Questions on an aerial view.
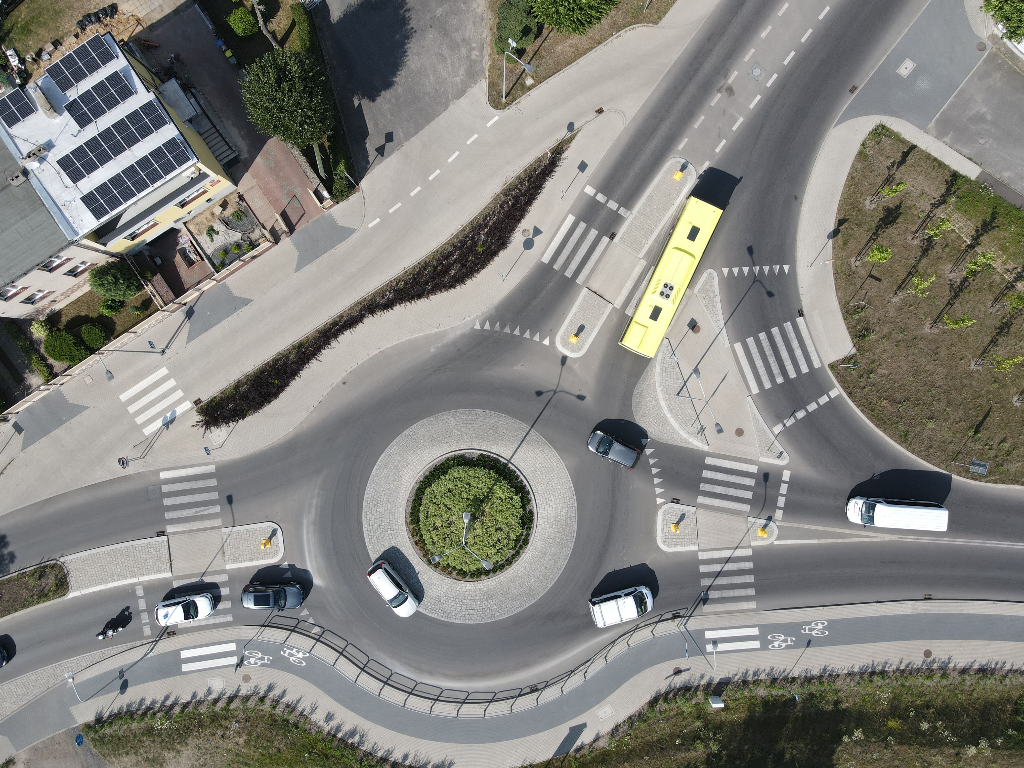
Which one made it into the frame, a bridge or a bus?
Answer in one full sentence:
This aerial view contains a bus.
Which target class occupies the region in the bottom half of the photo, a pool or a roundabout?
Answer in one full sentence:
You can see a roundabout in the bottom half of the photo.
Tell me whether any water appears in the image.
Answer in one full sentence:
No, there's no water in this view.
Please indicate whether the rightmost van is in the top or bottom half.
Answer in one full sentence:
Seen from above, the rightmost van lies in the bottom half of the view.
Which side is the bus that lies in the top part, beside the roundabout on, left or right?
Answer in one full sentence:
The bus that lies in the top part, beside the roundabout is on the right side of the image.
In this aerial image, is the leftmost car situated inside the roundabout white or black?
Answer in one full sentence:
The color of the leftmost car situated inside the roundabout is white.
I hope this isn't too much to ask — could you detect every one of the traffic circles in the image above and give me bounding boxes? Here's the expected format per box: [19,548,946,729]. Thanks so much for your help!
[304,351,635,681]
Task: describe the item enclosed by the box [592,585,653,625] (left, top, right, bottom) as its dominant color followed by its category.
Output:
white van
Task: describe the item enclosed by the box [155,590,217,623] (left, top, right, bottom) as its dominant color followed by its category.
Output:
white car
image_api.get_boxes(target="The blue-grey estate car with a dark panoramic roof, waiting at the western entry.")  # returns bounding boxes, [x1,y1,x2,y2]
[239,580,307,613]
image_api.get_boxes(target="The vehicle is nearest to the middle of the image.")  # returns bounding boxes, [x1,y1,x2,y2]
[584,429,644,472]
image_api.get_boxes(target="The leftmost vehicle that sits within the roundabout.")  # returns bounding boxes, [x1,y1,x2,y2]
[367,561,416,619]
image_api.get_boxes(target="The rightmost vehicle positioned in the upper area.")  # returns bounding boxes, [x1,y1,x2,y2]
[613,191,726,359]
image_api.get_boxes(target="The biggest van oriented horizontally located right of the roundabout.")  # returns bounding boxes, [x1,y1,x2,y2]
[846,497,946,531]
